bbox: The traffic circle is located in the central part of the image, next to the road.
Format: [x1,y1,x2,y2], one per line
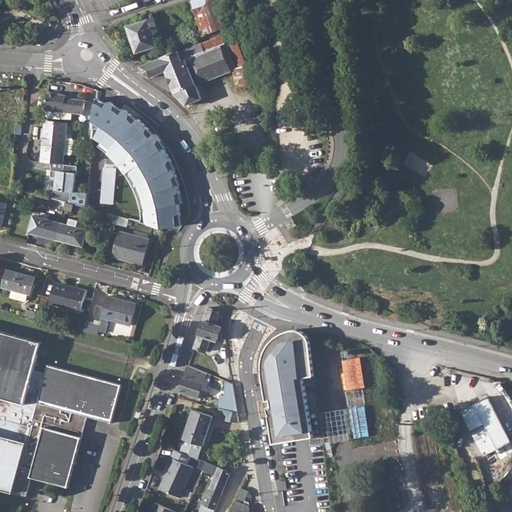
[179,213,259,293]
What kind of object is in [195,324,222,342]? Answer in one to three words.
house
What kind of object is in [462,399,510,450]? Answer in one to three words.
building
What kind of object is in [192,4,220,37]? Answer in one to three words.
shed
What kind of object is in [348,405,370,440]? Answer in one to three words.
greenhouse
